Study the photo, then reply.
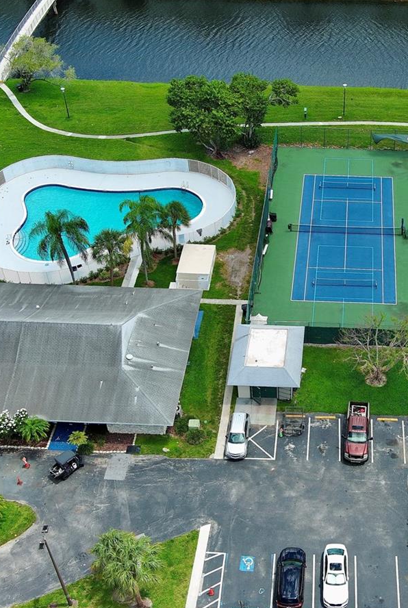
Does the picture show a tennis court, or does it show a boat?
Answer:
tennis court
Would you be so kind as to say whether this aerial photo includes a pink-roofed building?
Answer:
No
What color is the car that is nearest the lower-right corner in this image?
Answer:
white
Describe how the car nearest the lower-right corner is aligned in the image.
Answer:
from top to bottom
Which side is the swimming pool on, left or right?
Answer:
left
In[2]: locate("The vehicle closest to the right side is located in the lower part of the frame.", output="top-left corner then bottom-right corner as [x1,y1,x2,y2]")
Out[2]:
[344,405,372,460]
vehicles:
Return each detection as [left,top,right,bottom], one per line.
[344,405,372,460]
[320,543,350,604]
[275,548,306,608]
[41,447,84,481]
[222,408,251,457]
